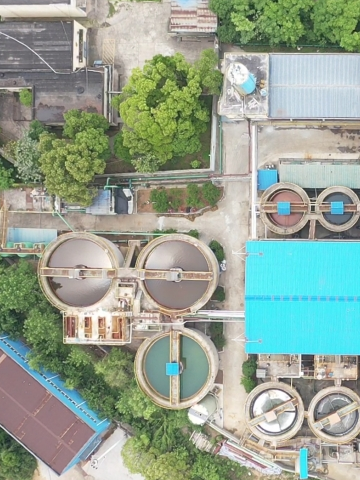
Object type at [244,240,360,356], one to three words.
building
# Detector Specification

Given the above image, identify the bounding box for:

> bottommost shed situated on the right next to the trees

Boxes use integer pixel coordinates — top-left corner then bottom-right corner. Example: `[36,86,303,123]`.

[217,436,273,480]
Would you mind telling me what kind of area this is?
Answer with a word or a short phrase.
industrial area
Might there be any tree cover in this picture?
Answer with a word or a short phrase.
Yes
